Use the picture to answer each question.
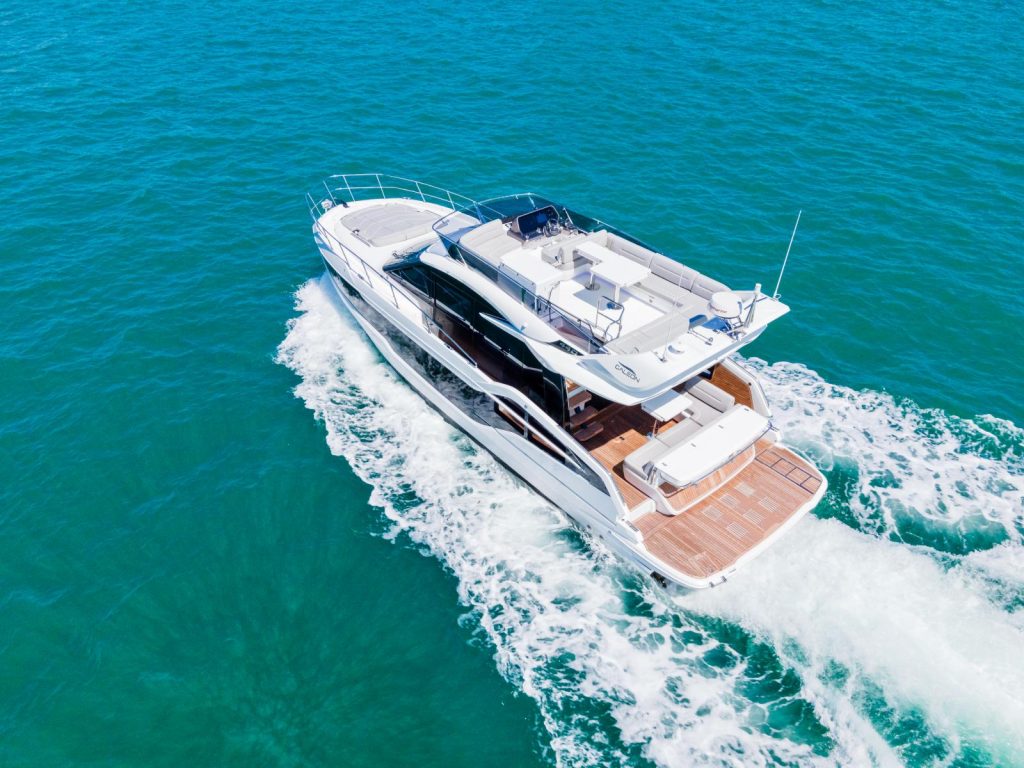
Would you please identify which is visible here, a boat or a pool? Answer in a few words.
boat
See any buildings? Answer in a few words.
No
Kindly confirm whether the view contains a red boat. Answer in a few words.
No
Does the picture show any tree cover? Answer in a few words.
No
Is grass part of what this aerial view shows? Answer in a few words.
No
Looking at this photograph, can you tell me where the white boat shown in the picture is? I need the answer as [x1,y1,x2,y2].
[304,173,833,593]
